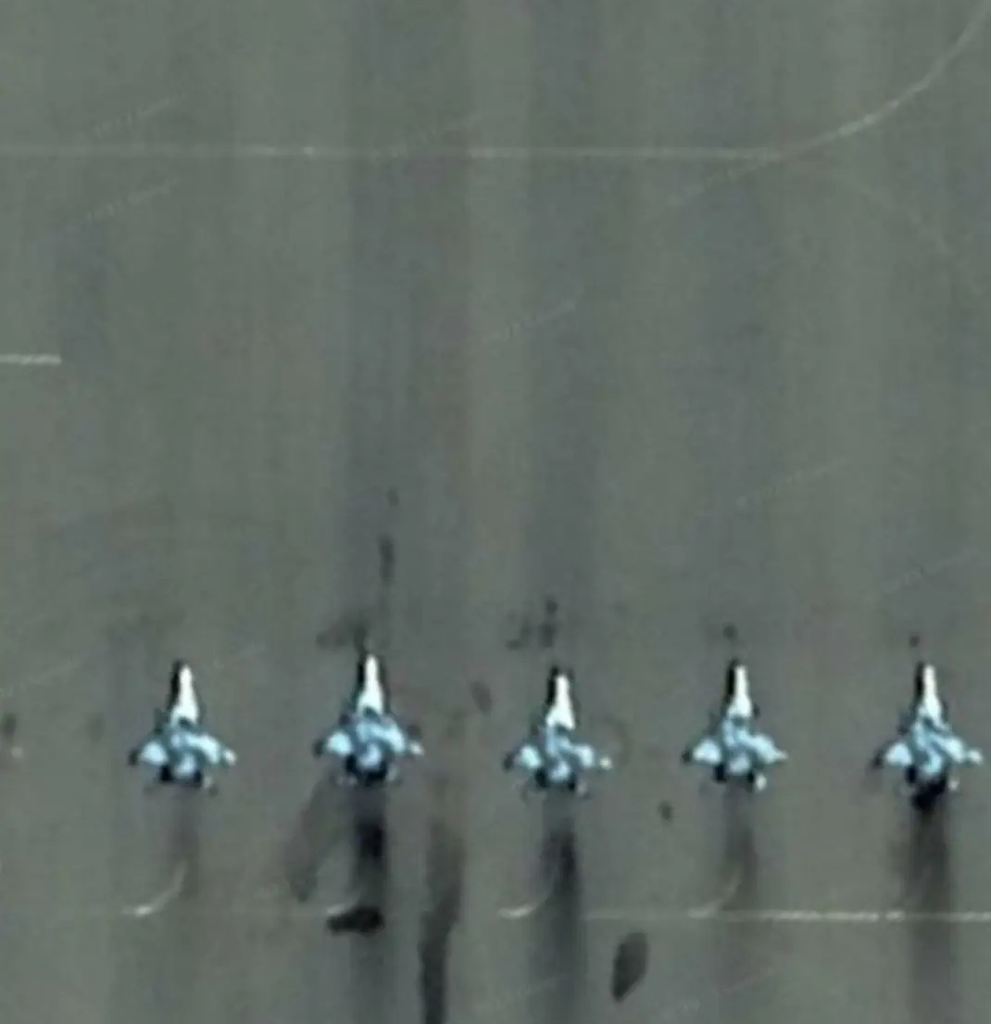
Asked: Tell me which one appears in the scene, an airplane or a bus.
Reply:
airplane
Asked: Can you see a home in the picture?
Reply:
No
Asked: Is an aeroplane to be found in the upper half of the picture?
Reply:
No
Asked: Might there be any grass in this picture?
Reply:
No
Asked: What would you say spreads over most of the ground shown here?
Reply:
paved ground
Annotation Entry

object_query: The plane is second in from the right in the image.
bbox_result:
[693,665,789,788]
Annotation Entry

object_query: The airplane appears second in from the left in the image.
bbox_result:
[325,654,420,777]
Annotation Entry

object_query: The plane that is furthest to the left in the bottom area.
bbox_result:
[138,665,234,787]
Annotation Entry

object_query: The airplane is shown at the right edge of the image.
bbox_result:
[880,665,975,788]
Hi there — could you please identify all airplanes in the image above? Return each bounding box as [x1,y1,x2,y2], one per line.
[880,665,975,788]
[693,665,789,788]
[514,673,609,796]
[138,665,234,787]
[325,654,420,777]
